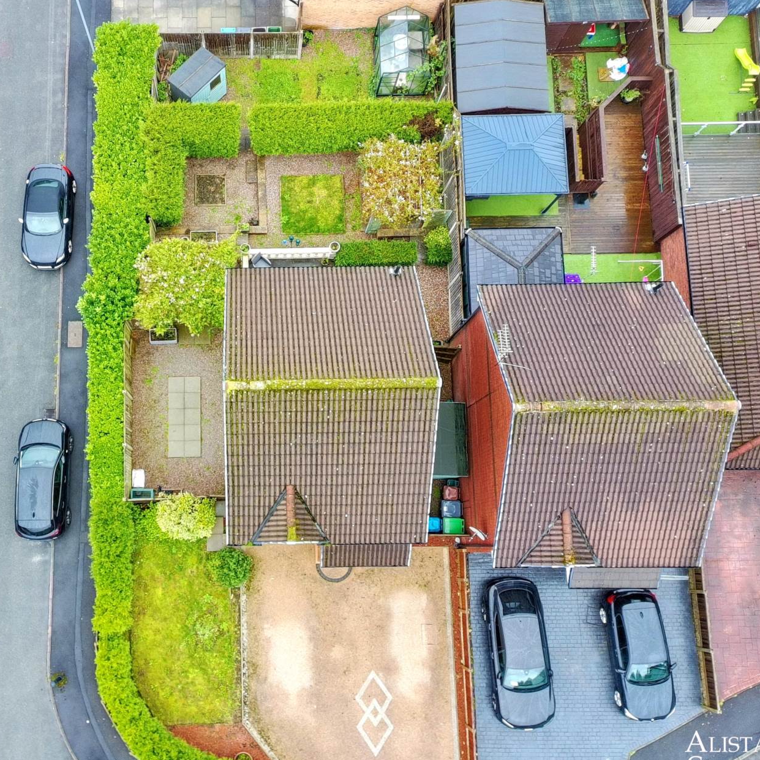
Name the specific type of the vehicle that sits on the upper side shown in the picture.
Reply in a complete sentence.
The vehicle that sits on the upper side can be classified as a car.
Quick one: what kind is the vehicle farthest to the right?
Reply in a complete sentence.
The vehicle farthest to the right in the image is an automobile.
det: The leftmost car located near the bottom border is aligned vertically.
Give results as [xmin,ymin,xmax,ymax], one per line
[482,576,561,731]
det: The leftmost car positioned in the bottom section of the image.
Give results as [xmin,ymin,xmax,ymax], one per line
[7,419,71,538]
